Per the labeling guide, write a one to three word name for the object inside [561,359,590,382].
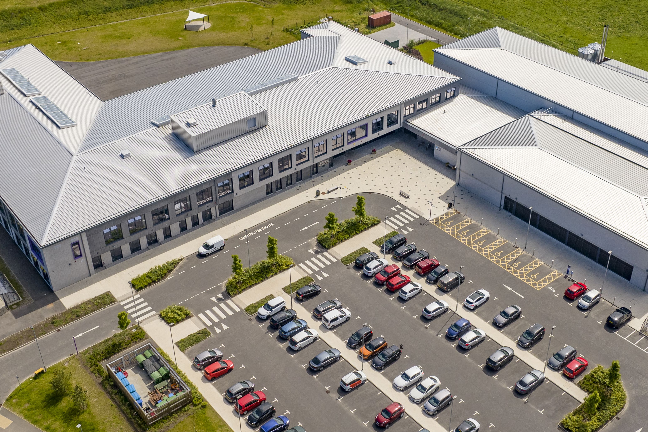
car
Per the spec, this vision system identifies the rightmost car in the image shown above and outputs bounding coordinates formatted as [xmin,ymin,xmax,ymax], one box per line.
[604,308,633,330]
